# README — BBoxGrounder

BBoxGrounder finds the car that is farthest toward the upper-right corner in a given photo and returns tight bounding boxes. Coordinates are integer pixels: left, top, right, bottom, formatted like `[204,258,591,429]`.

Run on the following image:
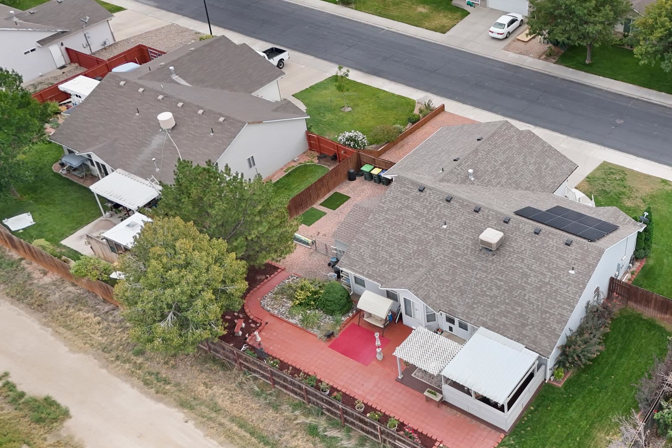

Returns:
[492,14,523,36]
